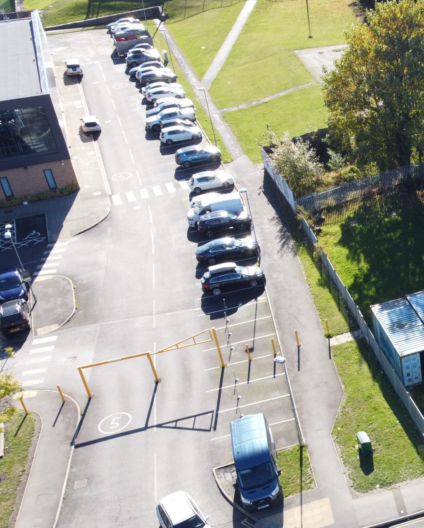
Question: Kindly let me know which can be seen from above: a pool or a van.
van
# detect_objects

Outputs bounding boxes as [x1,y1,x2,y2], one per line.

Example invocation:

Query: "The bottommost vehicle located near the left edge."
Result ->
[0,297,30,336]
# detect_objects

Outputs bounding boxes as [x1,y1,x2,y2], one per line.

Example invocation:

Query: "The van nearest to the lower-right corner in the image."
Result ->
[222,416,290,518]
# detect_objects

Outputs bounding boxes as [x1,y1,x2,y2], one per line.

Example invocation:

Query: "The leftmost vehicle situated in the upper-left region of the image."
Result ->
[61,61,79,77]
